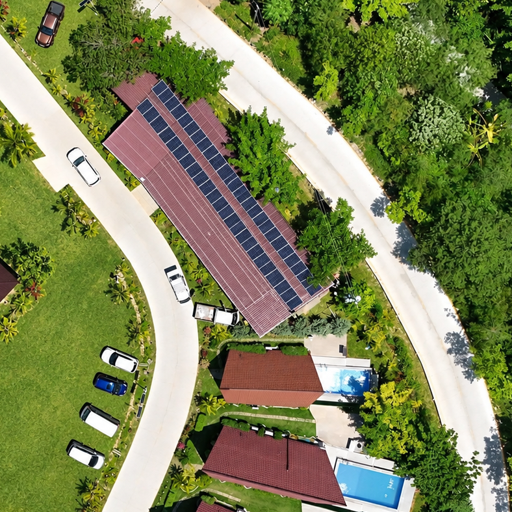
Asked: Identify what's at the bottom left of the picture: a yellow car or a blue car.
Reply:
blue car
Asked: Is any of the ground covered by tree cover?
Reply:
Yes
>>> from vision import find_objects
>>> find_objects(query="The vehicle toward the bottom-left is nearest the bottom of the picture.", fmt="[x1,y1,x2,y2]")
[66,441,106,467]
